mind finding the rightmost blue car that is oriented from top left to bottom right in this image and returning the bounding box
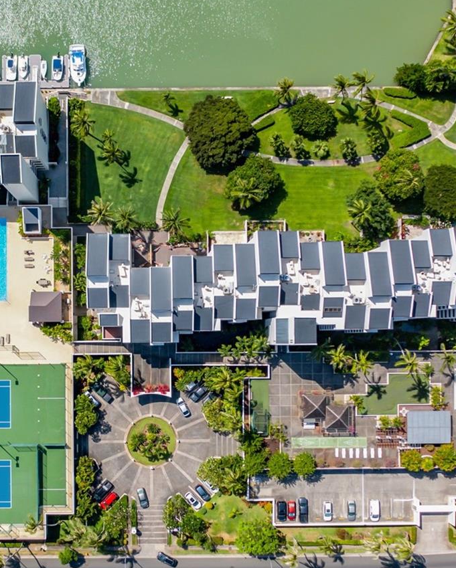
[193,483,211,503]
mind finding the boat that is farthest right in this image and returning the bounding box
[70,43,87,89]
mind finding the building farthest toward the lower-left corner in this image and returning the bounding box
[29,292,62,322]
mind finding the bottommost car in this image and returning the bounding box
[156,551,179,568]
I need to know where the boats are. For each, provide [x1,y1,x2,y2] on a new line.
[52,53,64,82]
[70,43,87,89]
[19,52,28,78]
[41,61,47,78]
[6,52,17,82]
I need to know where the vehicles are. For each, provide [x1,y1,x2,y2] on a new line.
[298,498,309,523]
[369,500,381,522]
[181,379,200,395]
[176,397,192,417]
[137,487,149,508]
[347,500,357,521]
[323,501,333,521]
[193,483,211,503]
[277,500,288,522]
[102,492,118,508]
[187,385,208,404]
[288,500,297,521]
[83,391,101,409]
[156,551,179,568]
[96,481,115,498]
[184,491,202,510]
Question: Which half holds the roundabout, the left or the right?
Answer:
left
